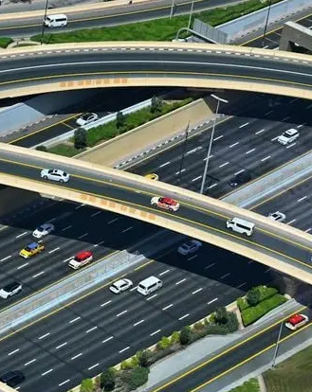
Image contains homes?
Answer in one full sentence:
No, the scene contains no home.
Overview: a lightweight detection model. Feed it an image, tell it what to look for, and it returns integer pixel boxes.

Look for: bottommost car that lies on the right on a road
[285,314,308,330]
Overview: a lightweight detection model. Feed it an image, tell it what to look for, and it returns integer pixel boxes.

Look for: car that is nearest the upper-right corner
[279,129,298,143]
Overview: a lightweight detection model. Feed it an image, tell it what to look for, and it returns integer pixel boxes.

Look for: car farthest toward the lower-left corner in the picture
[1,373,24,388]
